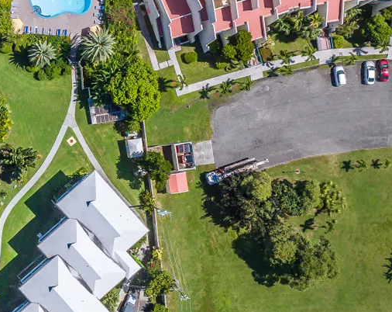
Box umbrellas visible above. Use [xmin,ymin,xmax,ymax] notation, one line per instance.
[88,23,102,36]
[11,19,24,32]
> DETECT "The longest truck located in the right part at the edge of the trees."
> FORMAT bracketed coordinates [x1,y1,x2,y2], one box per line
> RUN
[204,153,273,181]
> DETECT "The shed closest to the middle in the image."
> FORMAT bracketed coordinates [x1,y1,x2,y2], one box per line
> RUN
[166,172,188,194]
